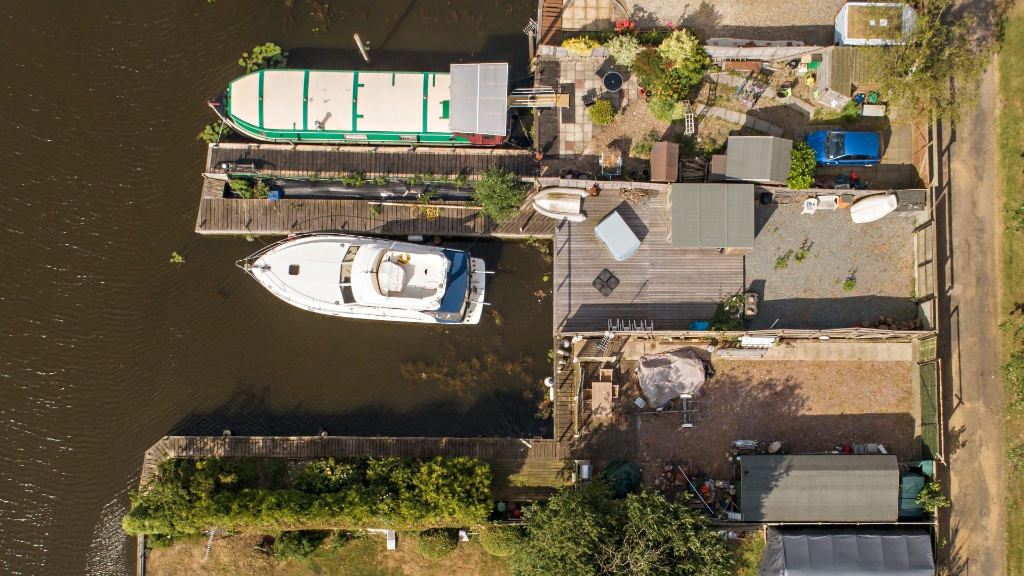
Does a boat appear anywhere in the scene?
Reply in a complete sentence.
Yes, this view includes a boat.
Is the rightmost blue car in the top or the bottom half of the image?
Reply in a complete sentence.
You can find the rightmost blue car in the top half.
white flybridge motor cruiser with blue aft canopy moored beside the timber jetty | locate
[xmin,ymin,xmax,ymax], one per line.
[234,234,495,326]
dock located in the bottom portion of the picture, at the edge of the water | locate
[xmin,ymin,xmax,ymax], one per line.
[138,436,575,492]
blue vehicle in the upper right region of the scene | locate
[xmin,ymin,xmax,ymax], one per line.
[799,126,883,167]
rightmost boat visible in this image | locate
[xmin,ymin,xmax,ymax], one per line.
[848,198,903,230]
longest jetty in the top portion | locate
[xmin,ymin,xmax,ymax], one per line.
[196,142,555,238]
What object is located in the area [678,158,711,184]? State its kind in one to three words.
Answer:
building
